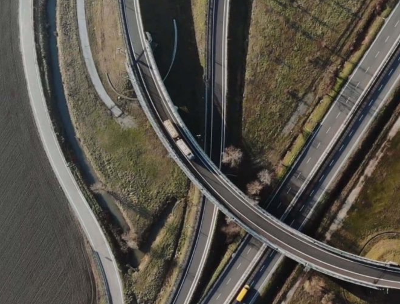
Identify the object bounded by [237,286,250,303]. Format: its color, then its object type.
yellow vehicle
